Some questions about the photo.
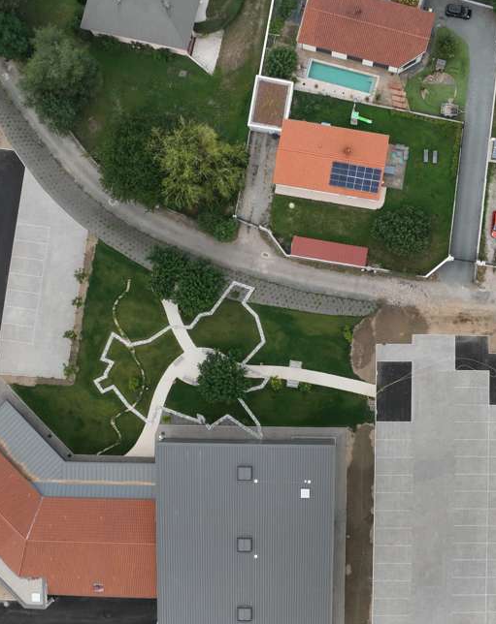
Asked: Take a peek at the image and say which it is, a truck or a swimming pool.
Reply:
swimming pool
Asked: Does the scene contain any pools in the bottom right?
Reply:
No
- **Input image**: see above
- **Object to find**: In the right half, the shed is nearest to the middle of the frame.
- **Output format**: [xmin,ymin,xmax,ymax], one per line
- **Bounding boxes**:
[291,236,368,267]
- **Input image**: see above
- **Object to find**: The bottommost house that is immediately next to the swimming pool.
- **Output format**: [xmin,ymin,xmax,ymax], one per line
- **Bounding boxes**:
[273,120,389,210]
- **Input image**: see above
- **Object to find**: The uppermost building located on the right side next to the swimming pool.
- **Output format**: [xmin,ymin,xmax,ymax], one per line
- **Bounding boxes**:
[298,0,435,73]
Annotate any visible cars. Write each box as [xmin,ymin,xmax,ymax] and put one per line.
[490,211,496,238]
[444,1,471,21]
